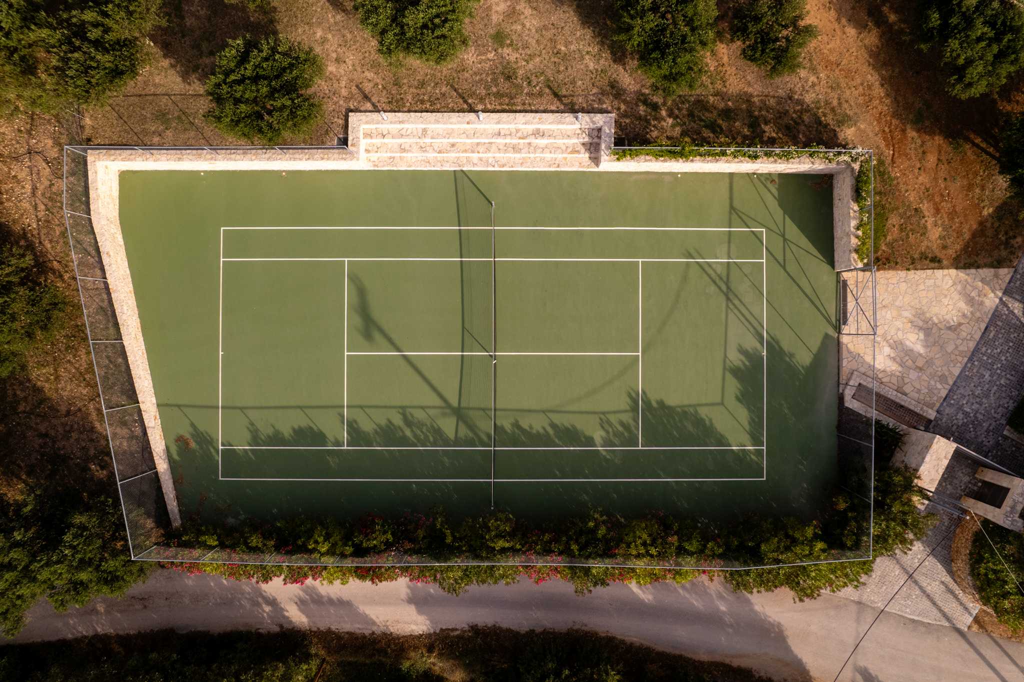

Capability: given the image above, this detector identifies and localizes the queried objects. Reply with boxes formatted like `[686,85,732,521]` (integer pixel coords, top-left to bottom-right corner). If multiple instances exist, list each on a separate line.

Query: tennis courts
[118,170,839,531]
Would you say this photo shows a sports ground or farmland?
sports ground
